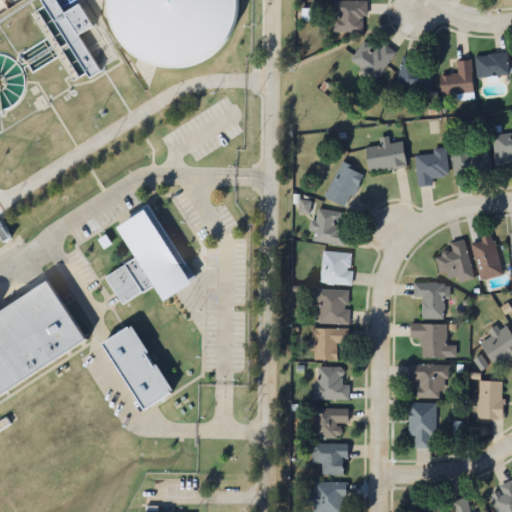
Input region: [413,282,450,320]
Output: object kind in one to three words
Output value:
house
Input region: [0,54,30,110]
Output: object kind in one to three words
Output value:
storage tank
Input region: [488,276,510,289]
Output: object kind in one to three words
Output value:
swimming pool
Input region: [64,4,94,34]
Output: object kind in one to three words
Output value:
building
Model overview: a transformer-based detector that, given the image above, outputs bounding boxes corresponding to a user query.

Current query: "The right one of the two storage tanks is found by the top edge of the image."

[106,0,239,68]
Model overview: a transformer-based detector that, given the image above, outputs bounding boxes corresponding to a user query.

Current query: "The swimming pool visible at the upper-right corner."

[482,84,508,97]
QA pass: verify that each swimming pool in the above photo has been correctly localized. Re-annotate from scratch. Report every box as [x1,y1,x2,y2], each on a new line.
[482,84,508,97]
[488,276,510,289]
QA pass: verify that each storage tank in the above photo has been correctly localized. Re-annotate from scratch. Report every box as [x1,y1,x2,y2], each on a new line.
[106,0,239,68]
[0,54,30,110]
